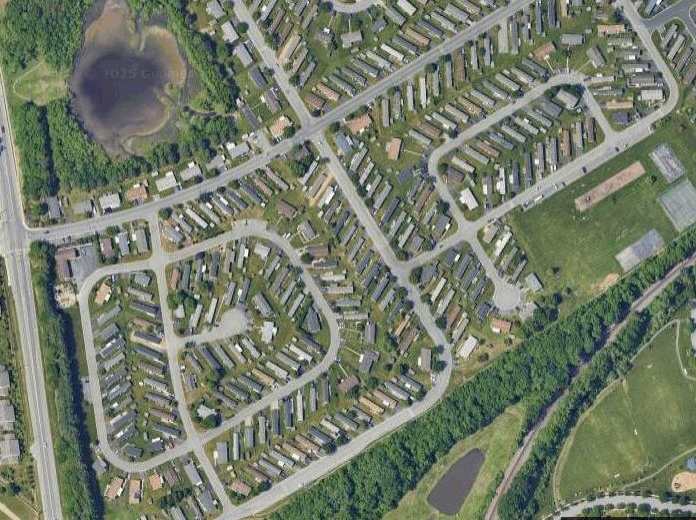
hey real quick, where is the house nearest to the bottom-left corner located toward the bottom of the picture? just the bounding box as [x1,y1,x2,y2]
[0,434,20,464]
